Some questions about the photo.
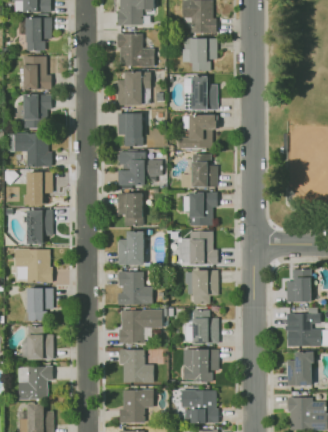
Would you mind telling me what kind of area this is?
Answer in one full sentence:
What you see here is a residential area.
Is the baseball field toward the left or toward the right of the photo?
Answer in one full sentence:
You can find the baseball field on the right side of the picture.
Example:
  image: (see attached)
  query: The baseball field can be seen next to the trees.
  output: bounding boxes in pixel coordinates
[288,123,328,200]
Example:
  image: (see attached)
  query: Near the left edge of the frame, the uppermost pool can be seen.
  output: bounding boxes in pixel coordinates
[11,218,26,243]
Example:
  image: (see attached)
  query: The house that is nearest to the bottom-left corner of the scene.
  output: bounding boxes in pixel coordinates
[20,404,54,432]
